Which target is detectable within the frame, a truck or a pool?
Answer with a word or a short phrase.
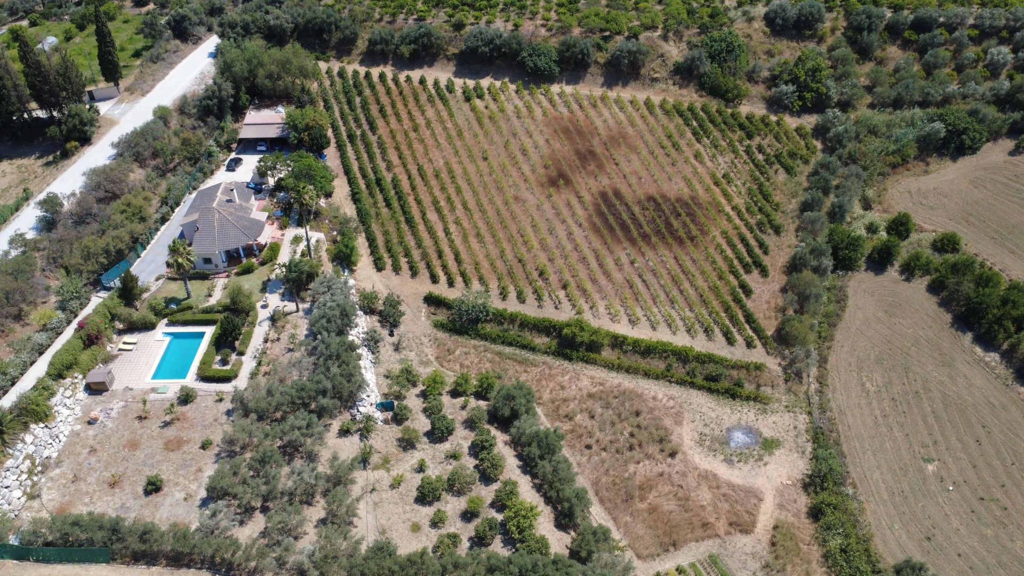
pool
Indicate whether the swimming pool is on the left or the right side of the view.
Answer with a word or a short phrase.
left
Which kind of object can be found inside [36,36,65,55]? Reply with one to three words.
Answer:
greenhouse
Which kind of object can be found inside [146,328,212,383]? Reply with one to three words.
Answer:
swimming pool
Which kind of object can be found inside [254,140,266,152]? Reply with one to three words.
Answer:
vehicle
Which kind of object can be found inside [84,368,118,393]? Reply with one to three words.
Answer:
shed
